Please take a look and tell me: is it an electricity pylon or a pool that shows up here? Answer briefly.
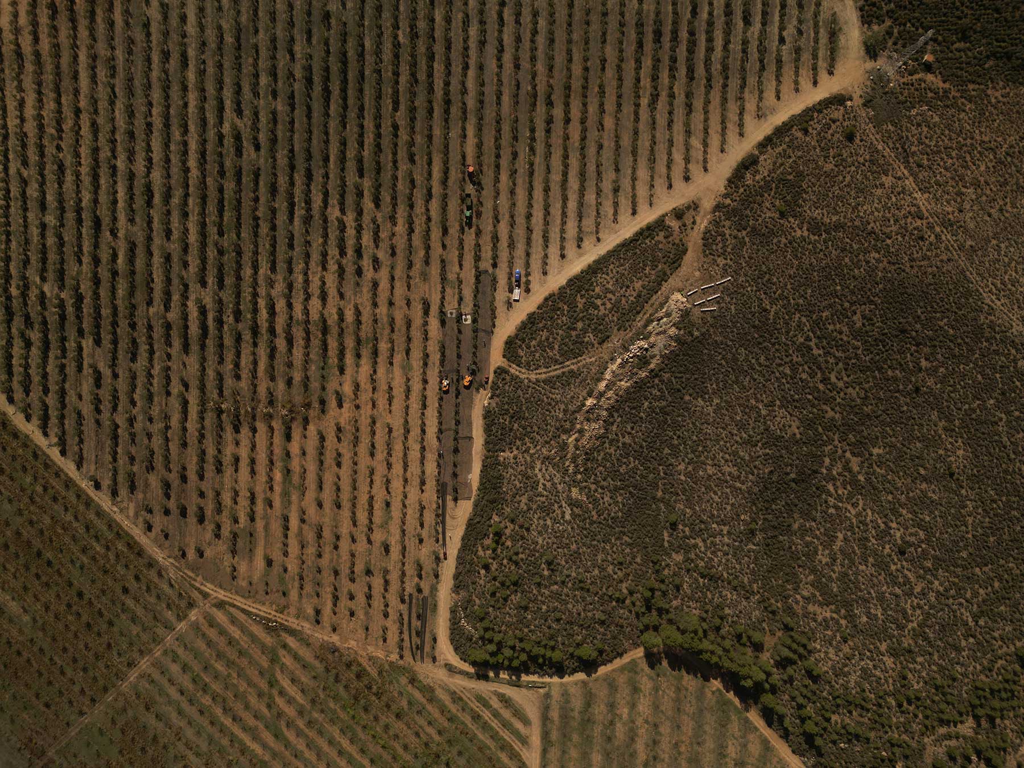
electricity pylon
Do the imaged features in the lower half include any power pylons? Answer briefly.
No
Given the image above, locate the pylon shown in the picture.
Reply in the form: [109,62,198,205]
[870,28,937,86]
